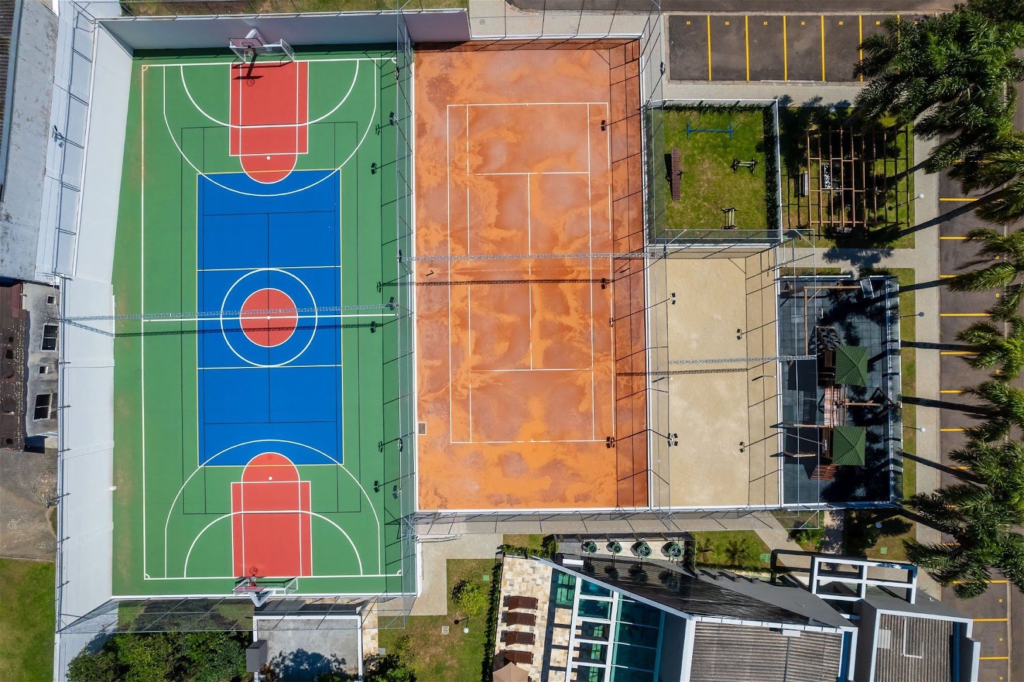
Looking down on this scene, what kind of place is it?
sports ground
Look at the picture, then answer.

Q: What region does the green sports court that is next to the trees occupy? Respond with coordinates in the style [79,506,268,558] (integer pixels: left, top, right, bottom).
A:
[112,41,416,594]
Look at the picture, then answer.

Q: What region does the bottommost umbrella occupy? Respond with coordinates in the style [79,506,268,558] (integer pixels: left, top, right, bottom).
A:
[491,661,531,682]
